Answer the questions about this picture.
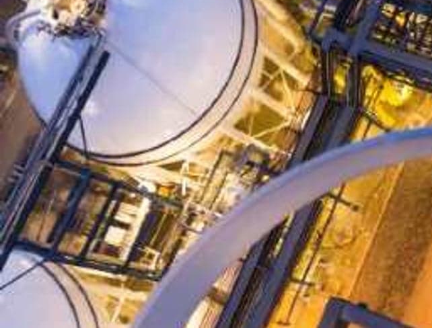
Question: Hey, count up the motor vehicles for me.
0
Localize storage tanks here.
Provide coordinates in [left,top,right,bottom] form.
[14,0,311,187]
[0,239,157,328]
